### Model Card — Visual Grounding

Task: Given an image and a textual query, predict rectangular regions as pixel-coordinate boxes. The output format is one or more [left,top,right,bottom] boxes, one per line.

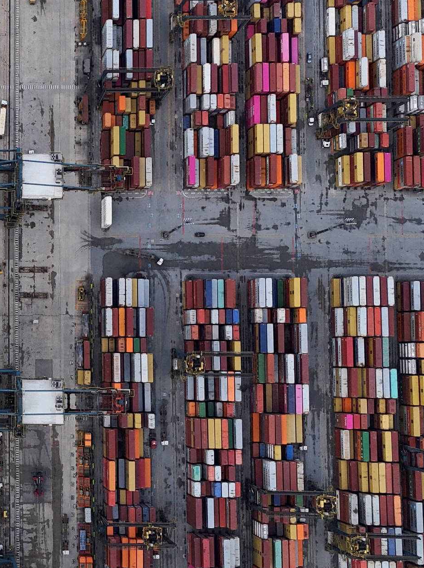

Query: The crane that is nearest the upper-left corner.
[91,67,173,113]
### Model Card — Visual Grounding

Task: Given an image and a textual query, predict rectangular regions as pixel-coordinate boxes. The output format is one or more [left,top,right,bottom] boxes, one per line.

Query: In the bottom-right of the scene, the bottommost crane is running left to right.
[320,518,420,562]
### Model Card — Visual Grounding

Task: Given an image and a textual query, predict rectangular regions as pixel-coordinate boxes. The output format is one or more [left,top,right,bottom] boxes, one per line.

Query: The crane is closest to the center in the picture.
[167,346,255,381]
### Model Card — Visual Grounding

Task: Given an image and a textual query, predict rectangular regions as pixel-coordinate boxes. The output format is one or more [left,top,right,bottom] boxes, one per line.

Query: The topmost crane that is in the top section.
[166,0,252,44]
